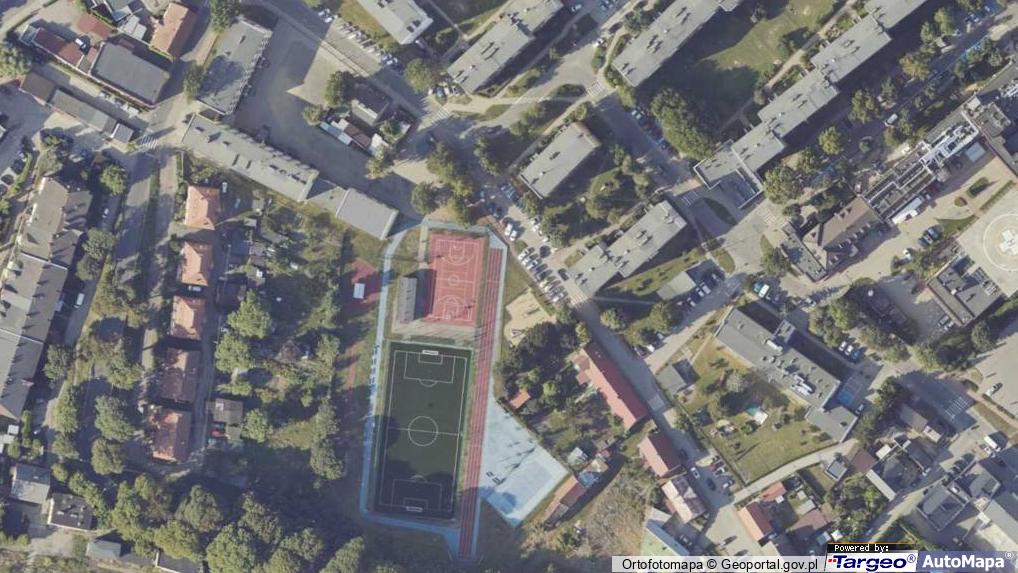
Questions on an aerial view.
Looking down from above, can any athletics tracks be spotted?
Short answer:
Yes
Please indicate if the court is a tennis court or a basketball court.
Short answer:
basketball court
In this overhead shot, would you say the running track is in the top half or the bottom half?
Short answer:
bottom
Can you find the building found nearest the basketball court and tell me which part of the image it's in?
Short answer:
center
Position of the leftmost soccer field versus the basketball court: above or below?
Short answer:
below it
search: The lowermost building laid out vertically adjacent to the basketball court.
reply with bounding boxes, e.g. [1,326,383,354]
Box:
[398,277,418,321]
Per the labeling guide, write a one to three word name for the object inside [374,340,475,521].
soccer field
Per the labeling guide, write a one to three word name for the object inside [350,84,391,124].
house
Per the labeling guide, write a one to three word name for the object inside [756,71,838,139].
building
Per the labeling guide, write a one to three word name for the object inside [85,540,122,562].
shed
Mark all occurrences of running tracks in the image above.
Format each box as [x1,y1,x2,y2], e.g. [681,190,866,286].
[458,248,502,557]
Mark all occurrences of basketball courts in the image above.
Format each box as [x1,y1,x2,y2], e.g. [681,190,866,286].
[424,234,485,326]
